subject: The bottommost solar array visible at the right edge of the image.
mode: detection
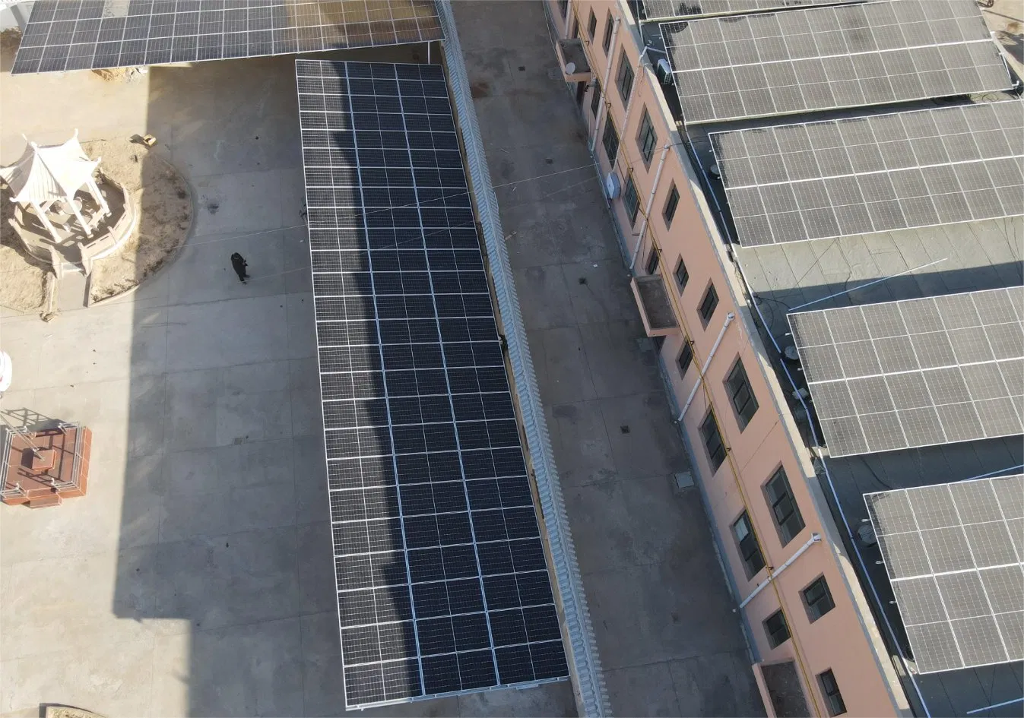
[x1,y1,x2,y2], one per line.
[852,473,1024,674]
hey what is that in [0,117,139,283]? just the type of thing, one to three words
building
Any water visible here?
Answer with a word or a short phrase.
No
